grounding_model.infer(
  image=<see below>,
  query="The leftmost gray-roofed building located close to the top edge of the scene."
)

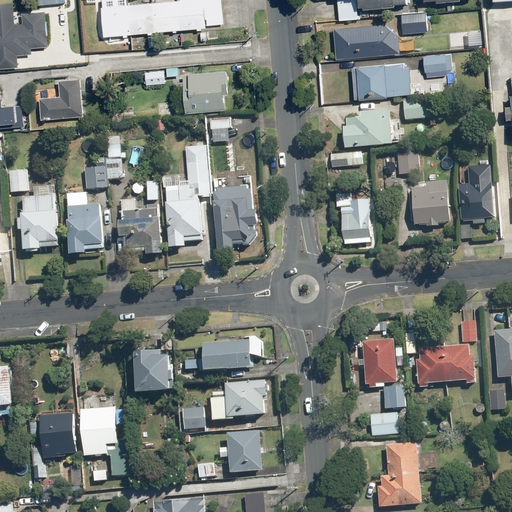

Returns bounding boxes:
[0,4,48,71]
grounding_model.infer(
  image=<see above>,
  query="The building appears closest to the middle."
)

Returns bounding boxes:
[213,187,258,250]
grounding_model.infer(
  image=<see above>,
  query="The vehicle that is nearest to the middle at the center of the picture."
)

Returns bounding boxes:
[283,266,298,278]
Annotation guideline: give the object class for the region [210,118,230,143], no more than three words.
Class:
building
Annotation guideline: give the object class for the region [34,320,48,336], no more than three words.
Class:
vehicle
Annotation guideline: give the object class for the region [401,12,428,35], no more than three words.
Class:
shed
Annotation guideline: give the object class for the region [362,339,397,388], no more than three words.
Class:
house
